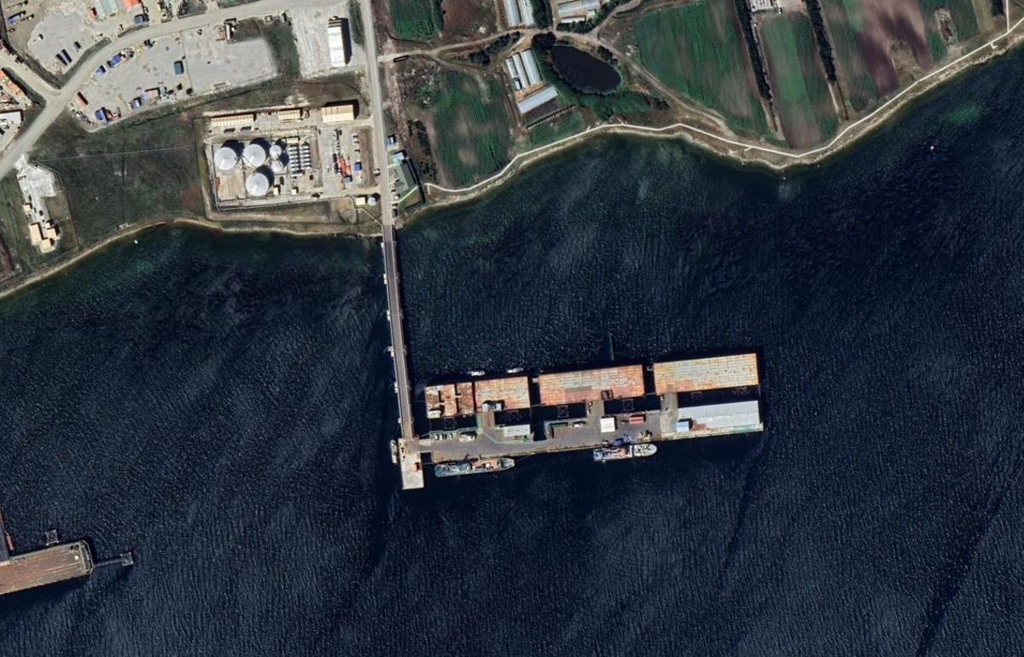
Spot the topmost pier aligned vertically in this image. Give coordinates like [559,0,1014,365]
[382,224,416,439]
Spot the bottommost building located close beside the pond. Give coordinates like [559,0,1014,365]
[517,85,558,113]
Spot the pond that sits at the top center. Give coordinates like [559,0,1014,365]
[550,44,623,93]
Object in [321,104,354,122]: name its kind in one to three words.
building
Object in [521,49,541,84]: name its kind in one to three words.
greenhouse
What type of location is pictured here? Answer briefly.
port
